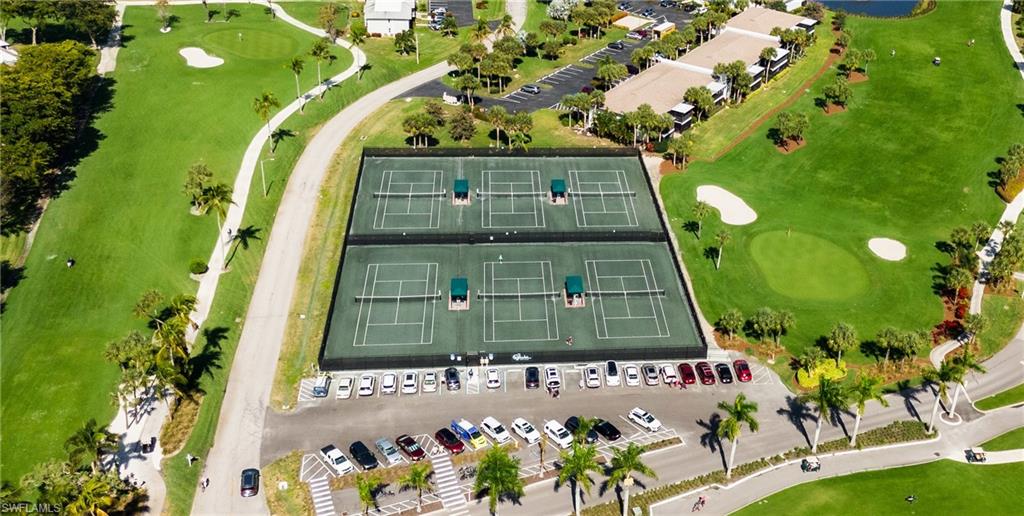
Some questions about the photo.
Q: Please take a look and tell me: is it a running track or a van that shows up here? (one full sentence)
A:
This aerial view contains a van.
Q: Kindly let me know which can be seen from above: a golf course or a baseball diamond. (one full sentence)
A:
The image shows a golf course.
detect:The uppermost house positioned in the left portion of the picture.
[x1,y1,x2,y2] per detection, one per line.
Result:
[361,0,419,36]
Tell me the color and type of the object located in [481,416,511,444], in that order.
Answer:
white car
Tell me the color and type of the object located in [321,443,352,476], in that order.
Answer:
white truck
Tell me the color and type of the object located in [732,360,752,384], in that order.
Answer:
red car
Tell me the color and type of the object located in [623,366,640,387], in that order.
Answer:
white car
